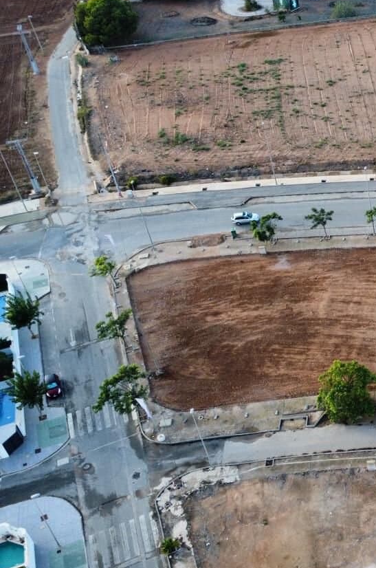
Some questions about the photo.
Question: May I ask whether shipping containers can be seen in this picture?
No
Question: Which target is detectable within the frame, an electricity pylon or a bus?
electricity pylon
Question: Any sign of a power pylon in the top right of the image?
No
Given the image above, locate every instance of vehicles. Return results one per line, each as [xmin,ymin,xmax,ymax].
[227,212,261,225]
[37,373,67,403]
